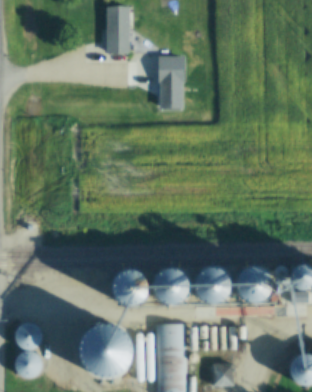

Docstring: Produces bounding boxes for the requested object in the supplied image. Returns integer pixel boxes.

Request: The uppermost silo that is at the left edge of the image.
[14,322,47,350]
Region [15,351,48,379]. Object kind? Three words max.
silo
